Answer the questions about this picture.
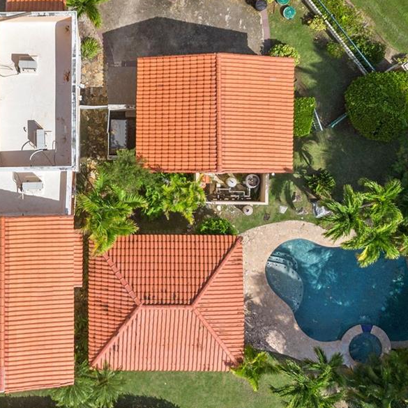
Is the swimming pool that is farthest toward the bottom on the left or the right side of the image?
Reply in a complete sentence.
You can find the swimming pool that is farthest toward the bottom on the right side of the picture.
